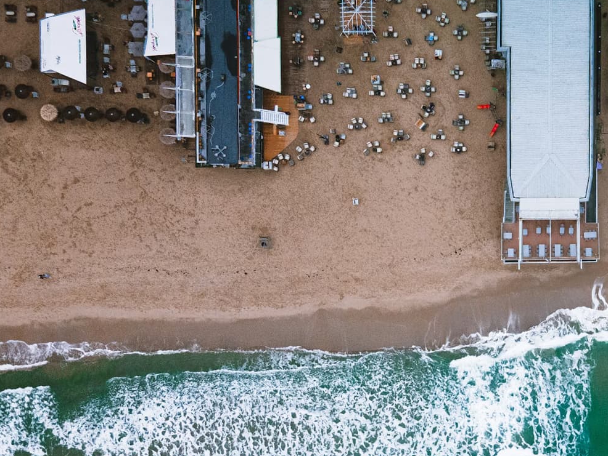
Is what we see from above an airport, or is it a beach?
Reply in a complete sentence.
It's a beach.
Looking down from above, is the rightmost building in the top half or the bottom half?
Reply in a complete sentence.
The top half of the photo is where the rightmost building is.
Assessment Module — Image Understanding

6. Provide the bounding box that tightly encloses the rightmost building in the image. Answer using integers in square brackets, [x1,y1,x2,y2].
[498,0,594,201]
